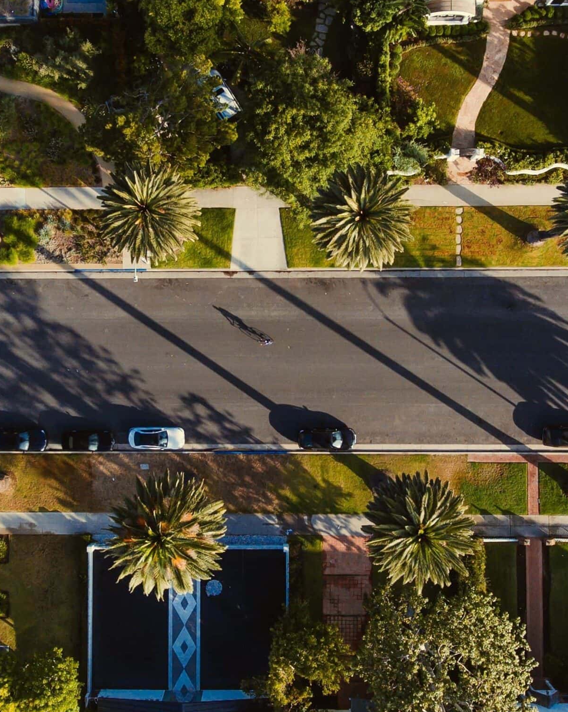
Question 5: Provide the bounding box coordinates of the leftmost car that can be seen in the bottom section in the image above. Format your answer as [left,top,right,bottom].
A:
[0,426,47,455]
